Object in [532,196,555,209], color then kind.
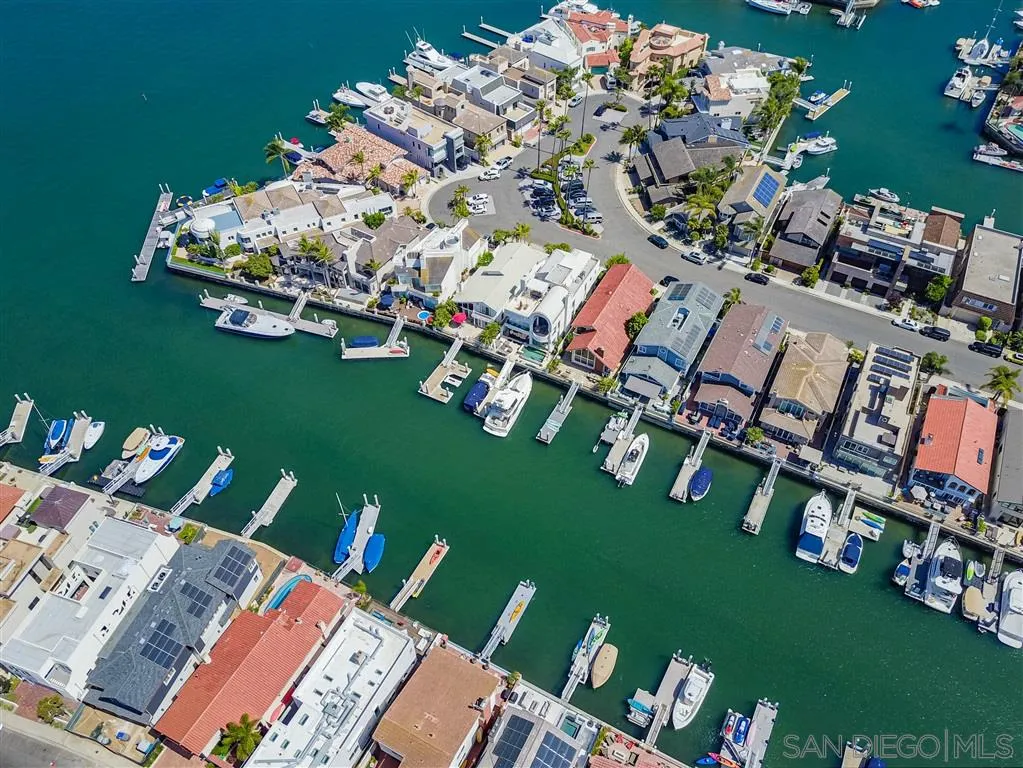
black vehicle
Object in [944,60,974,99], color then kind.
white boat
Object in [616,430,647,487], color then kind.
white boat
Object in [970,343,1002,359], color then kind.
black car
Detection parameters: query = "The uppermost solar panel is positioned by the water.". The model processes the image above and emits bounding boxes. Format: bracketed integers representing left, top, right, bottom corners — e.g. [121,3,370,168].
[752,172,780,208]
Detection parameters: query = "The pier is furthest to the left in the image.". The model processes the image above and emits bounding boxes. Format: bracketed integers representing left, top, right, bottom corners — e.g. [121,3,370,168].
[0,392,34,442]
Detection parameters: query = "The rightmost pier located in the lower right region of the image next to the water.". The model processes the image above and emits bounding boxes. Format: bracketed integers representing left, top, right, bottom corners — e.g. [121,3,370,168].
[978,543,1009,633]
